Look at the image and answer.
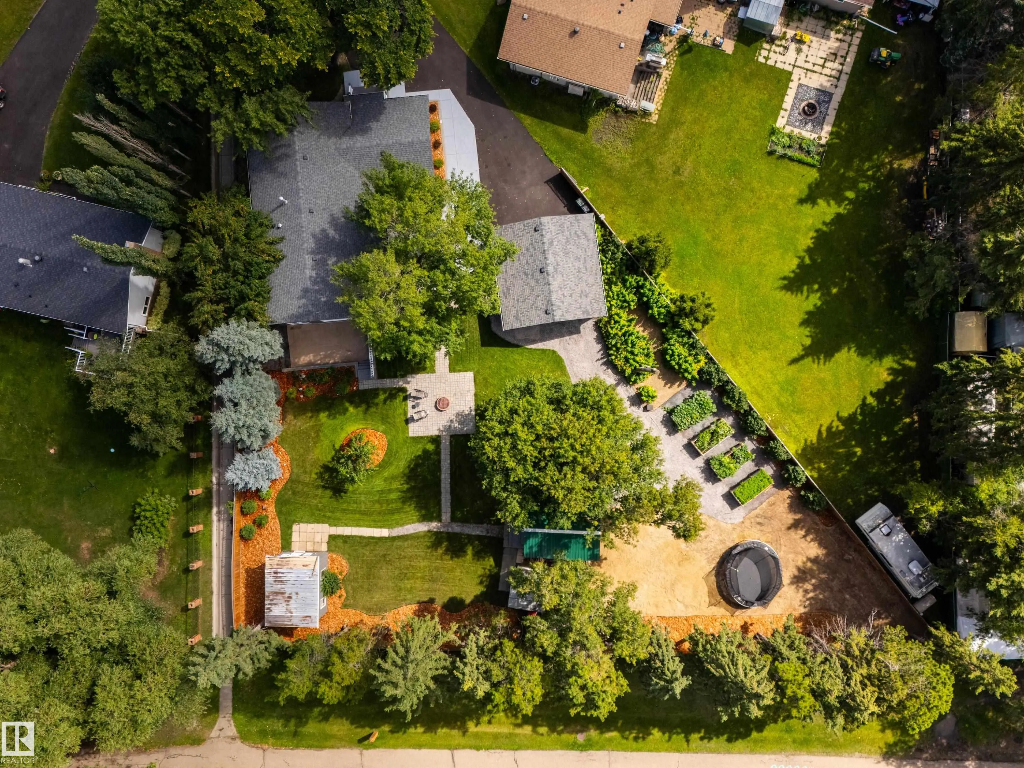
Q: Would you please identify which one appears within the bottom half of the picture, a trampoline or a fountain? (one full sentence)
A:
There is a trampoline within the bottom half of the picture.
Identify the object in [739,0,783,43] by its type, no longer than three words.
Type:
shed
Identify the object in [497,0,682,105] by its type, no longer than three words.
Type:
house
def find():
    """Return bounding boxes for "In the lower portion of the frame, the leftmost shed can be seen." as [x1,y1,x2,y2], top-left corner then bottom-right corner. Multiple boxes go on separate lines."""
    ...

[262,548,326,628]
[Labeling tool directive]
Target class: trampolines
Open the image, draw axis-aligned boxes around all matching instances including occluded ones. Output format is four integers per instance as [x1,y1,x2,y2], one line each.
[720,543,791,611]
